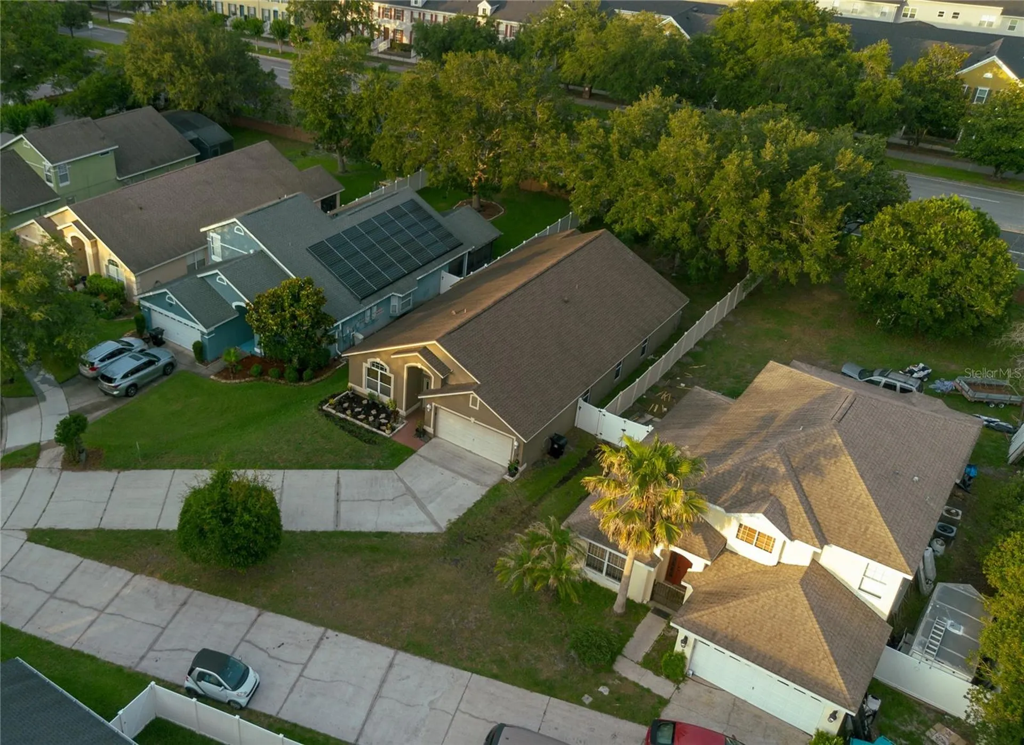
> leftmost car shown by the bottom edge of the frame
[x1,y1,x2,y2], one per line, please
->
[181,645,262,711]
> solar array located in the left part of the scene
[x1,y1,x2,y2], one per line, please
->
[307,199,461,300]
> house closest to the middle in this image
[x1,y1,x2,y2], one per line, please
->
[340,229,688,473]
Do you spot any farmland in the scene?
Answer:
No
